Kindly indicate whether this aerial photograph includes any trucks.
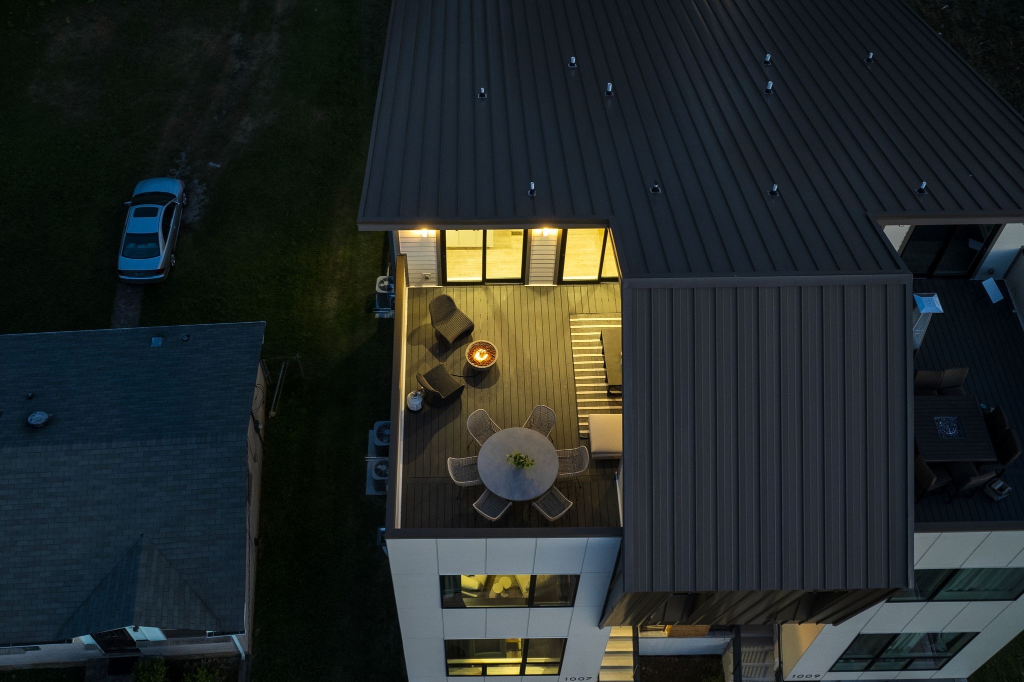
No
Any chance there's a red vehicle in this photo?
No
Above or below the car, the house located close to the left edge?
below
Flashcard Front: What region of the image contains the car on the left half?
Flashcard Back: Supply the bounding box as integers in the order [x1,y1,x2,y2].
[119,181,188,288]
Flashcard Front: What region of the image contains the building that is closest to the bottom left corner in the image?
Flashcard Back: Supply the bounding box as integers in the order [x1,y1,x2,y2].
[0,321,267,682]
